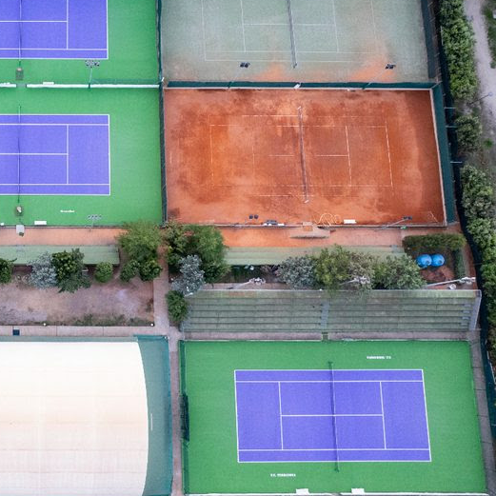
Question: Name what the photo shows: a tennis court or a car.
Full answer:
Looking from above, you can make out a tennis court.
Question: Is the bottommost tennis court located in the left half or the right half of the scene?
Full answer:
The bottommost tennis court sits on the right side.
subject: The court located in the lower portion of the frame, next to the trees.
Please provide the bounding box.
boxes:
[185,341,486,493]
